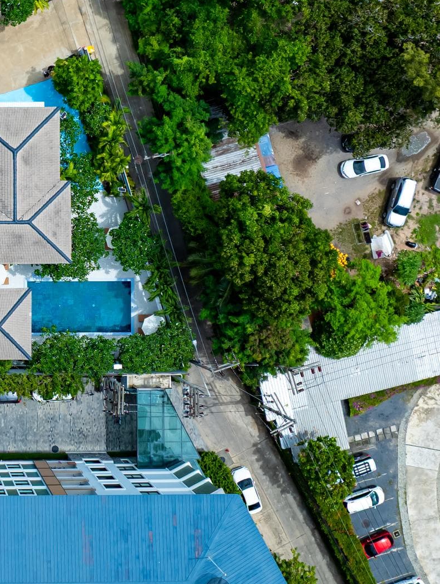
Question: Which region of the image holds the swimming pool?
left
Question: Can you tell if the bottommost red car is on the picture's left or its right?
right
